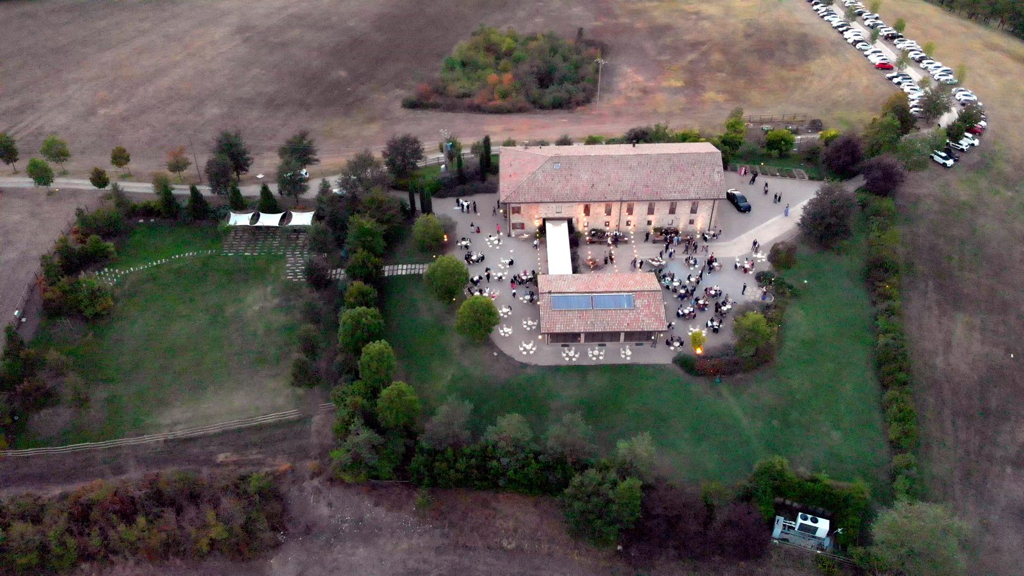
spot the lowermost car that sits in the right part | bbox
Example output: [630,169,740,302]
[726,192,753,212]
